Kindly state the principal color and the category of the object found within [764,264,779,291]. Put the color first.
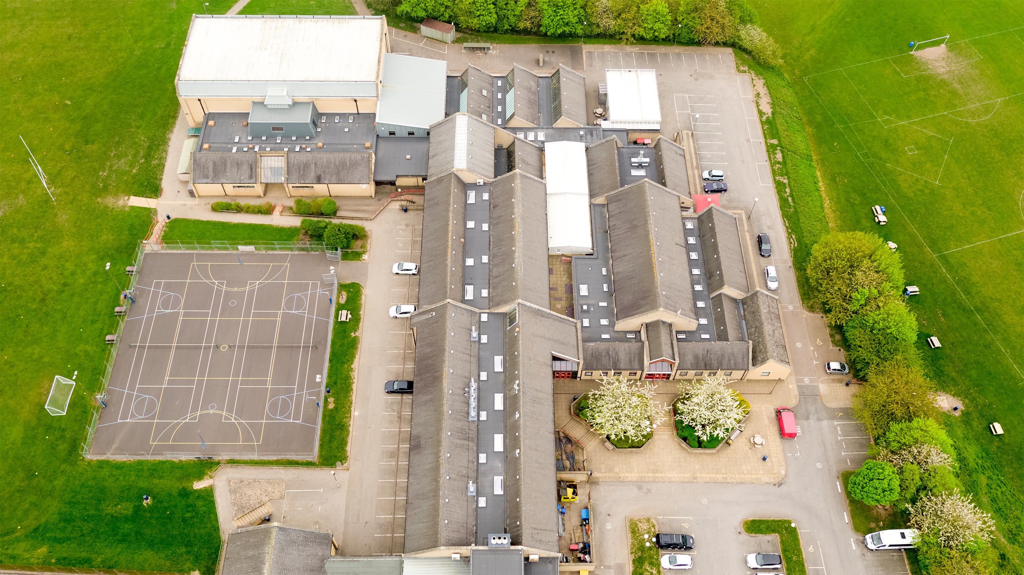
white car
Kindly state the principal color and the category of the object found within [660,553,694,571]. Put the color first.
white car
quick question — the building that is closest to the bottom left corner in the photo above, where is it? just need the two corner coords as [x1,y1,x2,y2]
[221,524,339,575]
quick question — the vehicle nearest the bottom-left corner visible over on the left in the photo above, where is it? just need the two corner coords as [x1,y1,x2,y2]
[385,379,413,396]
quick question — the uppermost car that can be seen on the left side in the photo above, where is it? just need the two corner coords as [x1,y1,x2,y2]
[392,262,419,277]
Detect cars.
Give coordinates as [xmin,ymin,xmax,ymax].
[702,170,725,182]
[824,361,849,375]
[764,264,779,291]
[747,552,782,570]
[757,232,772,257]
[385,379,413,396]
[654,533,695,552]
[660,553,694,571]
[703,181,728,193]
[389,304,416,319]
[392,262,419,277]
[755,570,787,575]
